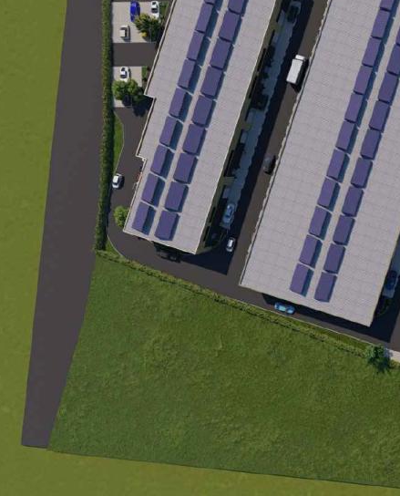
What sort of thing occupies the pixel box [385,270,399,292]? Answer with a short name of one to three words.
vehicle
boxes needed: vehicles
[385,270,399,292]
[287,57,307,88]
[263,154,276,174]
[120,66,130,82]
[226,237,236,253]
[274,302,295,315]
[149,0,160,19]
[113,173,124,190]
[222,204,235,226]
[119,22,130,44]
[130,1,140,22]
